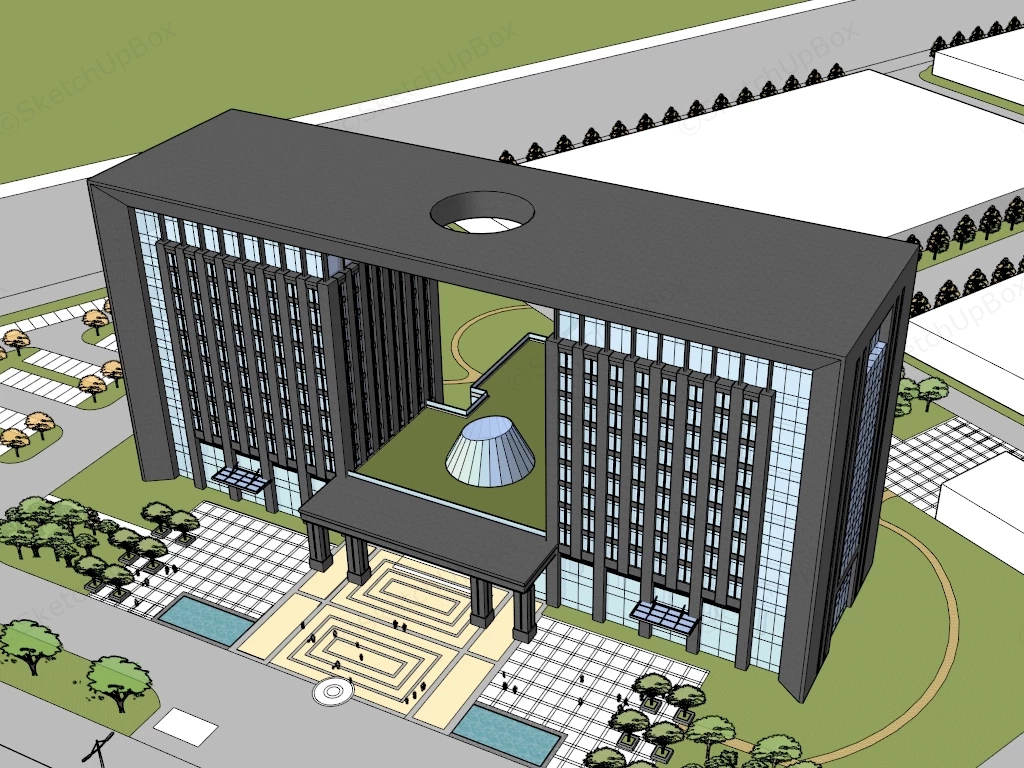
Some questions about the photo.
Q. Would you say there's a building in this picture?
Yes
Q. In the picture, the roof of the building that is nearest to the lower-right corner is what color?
white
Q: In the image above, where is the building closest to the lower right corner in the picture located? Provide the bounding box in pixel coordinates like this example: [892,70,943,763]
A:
[935,451,1024,574]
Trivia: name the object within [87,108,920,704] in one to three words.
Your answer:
building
